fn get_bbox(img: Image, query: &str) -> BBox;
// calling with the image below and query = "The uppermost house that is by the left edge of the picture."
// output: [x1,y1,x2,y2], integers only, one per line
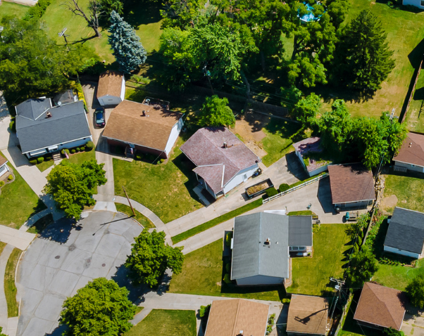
[14,97,93,162]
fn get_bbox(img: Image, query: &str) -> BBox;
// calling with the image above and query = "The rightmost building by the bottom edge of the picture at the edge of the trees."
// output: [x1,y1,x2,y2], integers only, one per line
[353,282,406,331]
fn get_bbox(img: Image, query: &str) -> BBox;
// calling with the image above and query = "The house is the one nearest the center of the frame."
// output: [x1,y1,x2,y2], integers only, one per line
[183,124,260,206]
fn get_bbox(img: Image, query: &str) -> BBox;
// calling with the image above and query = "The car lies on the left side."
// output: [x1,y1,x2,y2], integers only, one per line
[92,104,104,126]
